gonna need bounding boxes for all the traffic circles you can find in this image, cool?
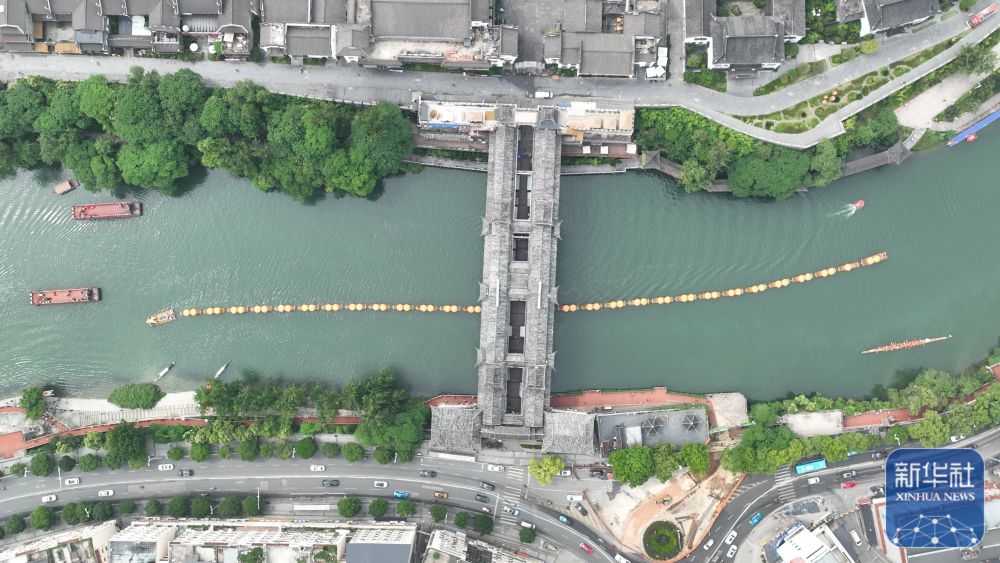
[638,516,685,562]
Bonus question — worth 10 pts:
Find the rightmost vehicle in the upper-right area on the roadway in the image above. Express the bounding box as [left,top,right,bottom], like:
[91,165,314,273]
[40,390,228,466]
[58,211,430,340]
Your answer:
[964,4,995,29]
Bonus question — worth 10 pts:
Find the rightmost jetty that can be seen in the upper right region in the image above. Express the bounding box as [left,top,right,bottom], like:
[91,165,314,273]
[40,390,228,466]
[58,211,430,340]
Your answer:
[949,109,1000,146]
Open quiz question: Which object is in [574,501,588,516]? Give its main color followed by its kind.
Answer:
gray vehicle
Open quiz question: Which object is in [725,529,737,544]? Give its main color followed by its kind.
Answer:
white vehicle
